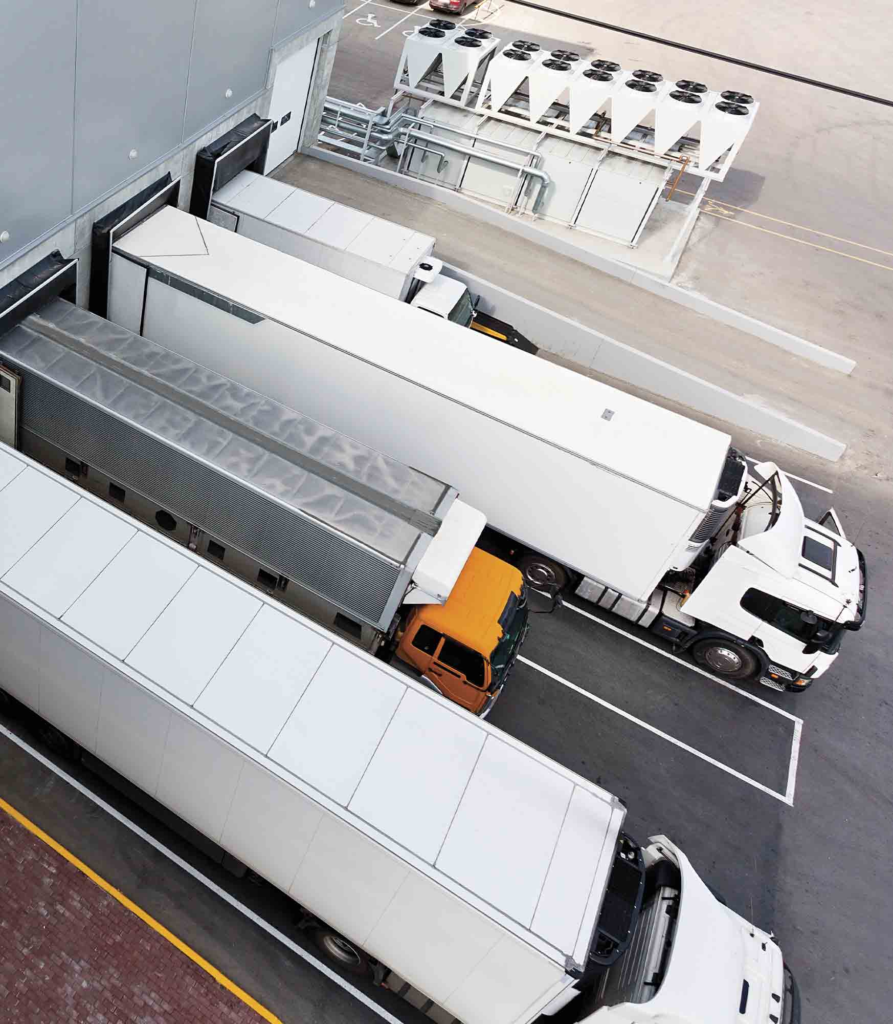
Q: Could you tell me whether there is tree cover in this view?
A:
No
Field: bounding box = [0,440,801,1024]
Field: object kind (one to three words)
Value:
truck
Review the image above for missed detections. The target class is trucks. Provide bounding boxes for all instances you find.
[0,440,801,1024]
[0,297,557,720]
[106,206,862,697]
[207,170,487,329]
